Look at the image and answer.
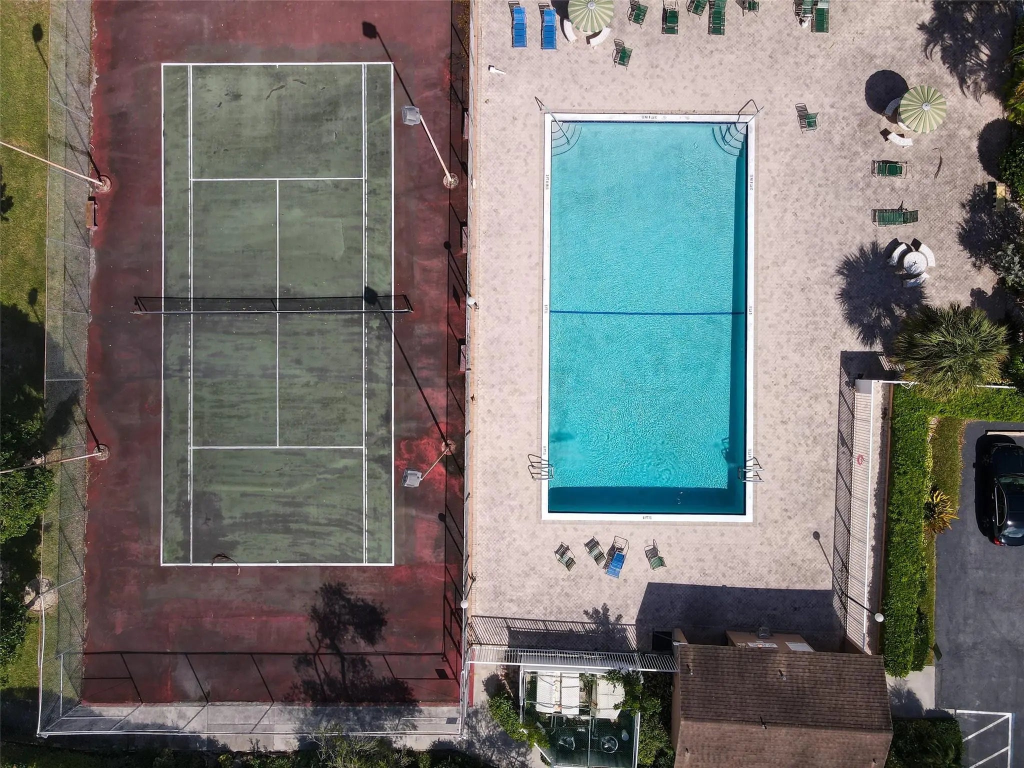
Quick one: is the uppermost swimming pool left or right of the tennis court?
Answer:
right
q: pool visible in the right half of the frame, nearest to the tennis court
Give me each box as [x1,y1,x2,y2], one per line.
[537,109,760,527]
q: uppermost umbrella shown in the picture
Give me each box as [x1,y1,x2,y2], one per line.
[567,0,614,35]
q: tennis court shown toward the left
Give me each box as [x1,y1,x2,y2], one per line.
[82,0,475,706]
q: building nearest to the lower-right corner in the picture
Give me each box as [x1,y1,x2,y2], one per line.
[668,627,892,768]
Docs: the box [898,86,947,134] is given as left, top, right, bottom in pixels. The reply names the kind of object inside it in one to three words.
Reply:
umbrella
